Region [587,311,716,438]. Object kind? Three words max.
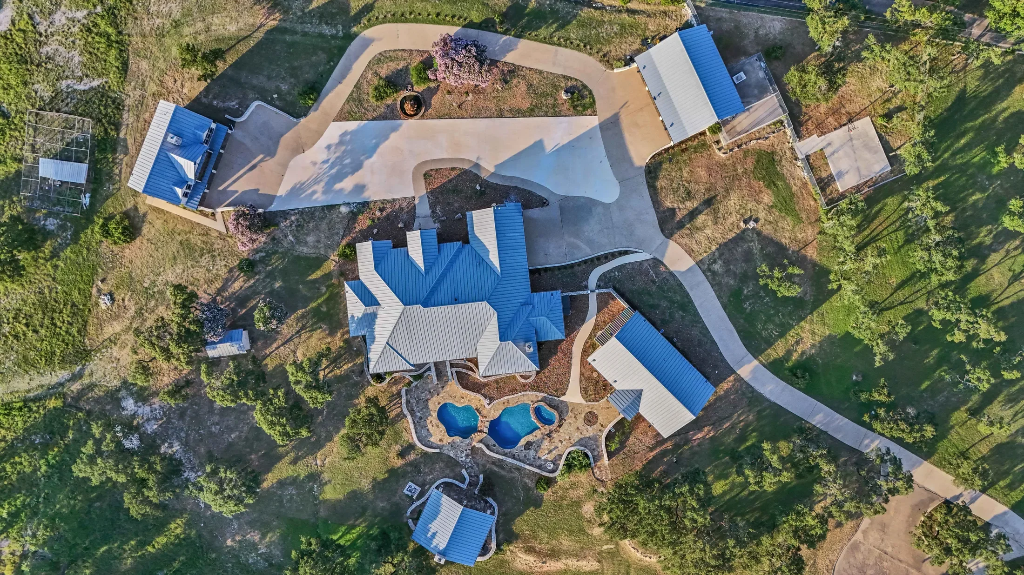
building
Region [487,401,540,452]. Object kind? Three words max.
swimming pool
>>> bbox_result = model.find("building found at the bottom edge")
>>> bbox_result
[411,488,495,567]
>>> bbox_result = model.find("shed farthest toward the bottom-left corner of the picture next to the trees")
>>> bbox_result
[203,329,252,358]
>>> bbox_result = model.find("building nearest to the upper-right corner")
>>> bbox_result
[635,24,745,143]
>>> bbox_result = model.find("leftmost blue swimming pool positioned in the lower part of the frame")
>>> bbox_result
[435,400,482,441]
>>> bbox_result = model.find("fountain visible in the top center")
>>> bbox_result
[397,90,424,119]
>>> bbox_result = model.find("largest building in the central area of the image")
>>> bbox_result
[344,203,565,376]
